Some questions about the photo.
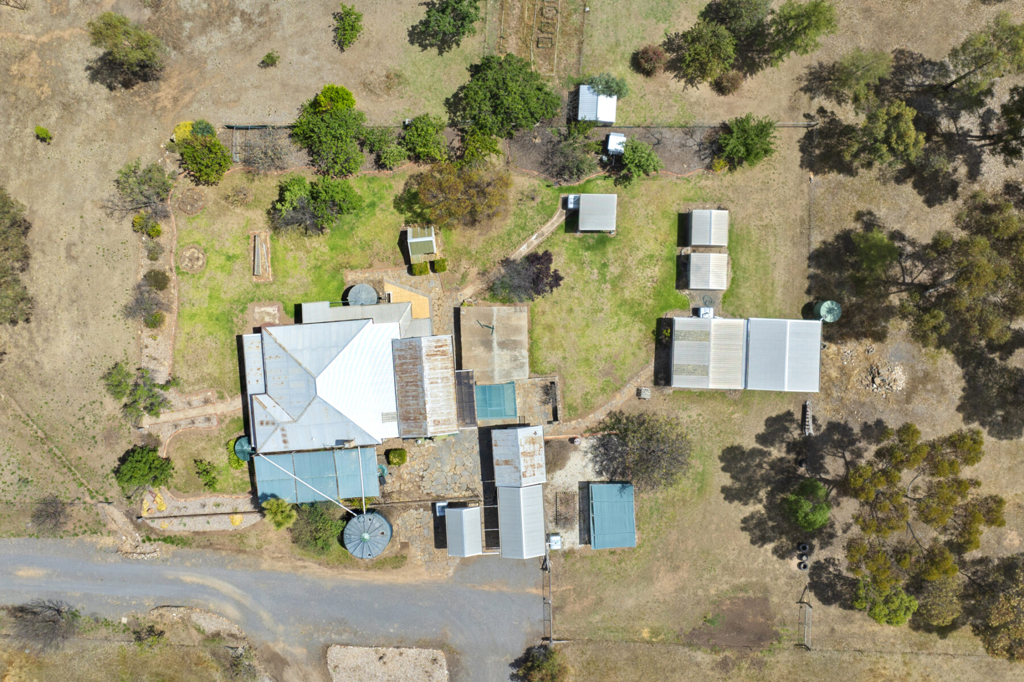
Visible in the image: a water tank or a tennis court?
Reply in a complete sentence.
I can see a water tank in this picture.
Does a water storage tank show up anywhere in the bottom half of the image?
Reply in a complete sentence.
Yes, there is a water storage tank in the bottom half of the image.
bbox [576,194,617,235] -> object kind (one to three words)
shed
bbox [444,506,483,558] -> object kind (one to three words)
shed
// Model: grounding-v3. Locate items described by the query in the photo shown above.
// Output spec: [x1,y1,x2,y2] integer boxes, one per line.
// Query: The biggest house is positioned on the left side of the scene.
[241,301,478,455]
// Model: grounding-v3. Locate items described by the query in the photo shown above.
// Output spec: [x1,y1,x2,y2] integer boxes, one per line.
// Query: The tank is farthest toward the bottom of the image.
[343,508,395,561]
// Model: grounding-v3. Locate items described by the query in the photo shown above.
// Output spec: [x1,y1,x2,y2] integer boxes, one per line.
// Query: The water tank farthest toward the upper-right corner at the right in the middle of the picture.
[814,300,842,322]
